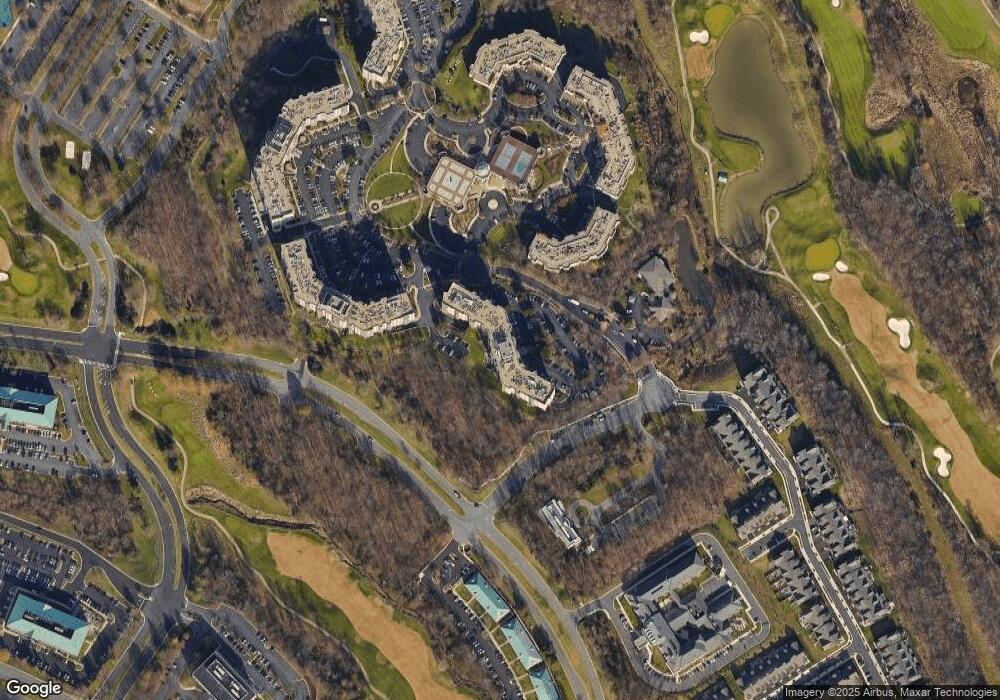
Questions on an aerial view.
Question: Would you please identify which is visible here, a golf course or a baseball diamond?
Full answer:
The image shows a golf course.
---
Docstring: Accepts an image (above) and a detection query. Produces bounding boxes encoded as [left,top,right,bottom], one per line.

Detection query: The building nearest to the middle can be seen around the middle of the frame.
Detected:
[440,282,553,413]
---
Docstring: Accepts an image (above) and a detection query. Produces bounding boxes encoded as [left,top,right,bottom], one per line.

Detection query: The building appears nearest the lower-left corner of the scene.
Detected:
[7,594,88,658]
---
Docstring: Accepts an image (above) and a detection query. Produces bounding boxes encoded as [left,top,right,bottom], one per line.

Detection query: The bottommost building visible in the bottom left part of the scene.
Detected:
[193,652,258,700]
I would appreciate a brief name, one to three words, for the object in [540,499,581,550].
building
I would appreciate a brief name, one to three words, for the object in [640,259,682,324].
building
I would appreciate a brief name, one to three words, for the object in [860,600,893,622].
house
